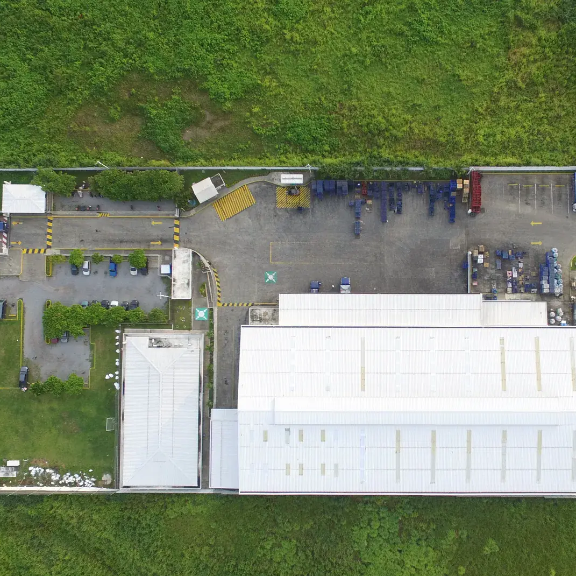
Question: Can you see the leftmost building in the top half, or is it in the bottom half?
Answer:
top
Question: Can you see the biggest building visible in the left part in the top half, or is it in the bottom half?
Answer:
bottom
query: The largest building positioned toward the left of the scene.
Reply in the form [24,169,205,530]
[121,329,208,488]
